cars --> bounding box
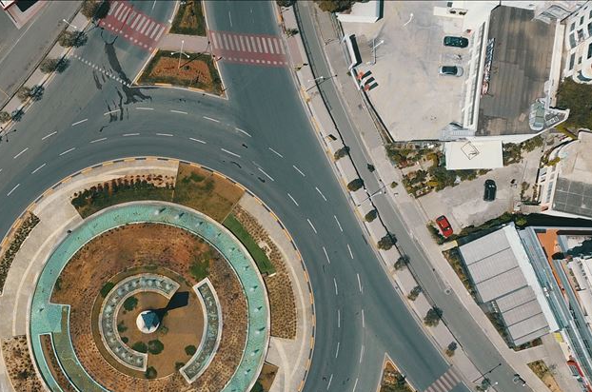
[485,178,499,201]
[436,213,455,239]
[440,62,465,76]
[444,35,469,46]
